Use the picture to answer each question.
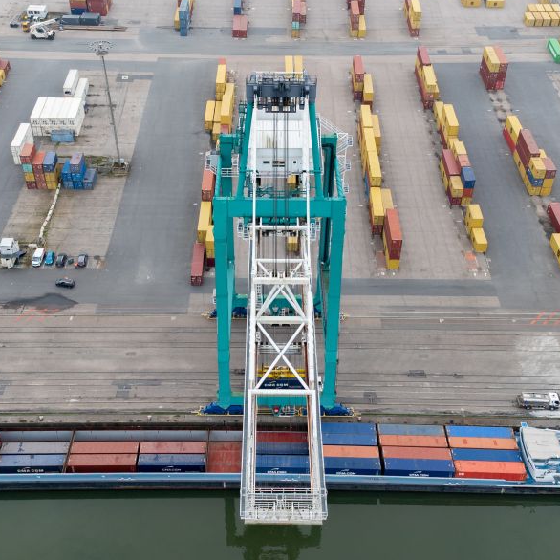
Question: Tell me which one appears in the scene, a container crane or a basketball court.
container crane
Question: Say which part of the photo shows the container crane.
center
